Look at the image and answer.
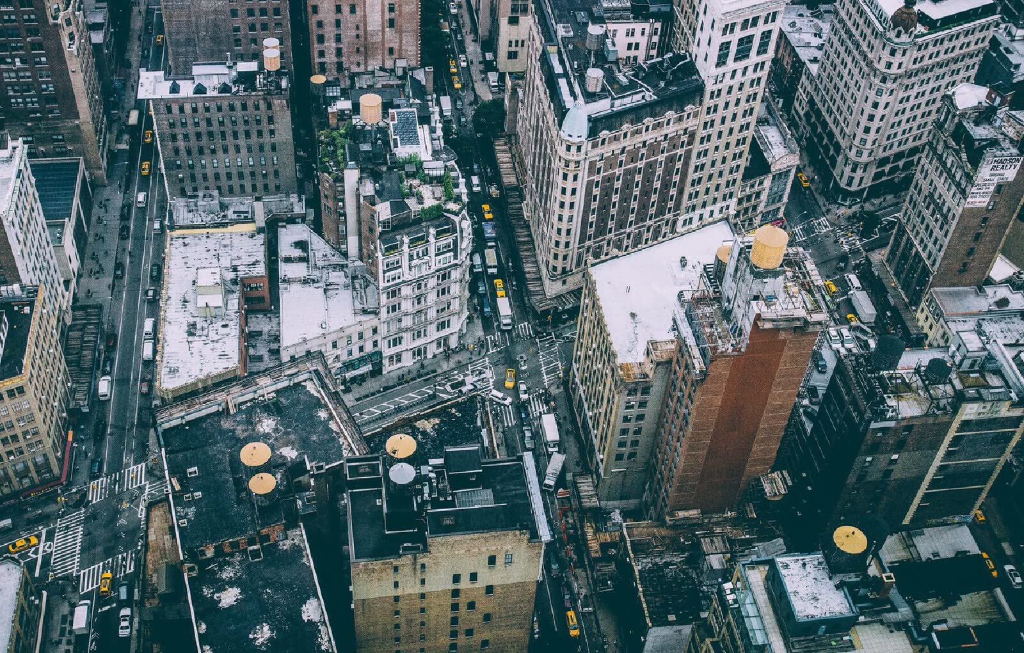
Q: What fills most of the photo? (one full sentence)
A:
What you mostly see from above here is buildings.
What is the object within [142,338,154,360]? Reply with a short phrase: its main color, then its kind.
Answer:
white vehicle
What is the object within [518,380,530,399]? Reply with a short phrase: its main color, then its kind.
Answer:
white vehicle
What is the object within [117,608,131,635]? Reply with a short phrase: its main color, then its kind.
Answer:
white car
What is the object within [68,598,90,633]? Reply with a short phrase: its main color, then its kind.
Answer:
white truck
